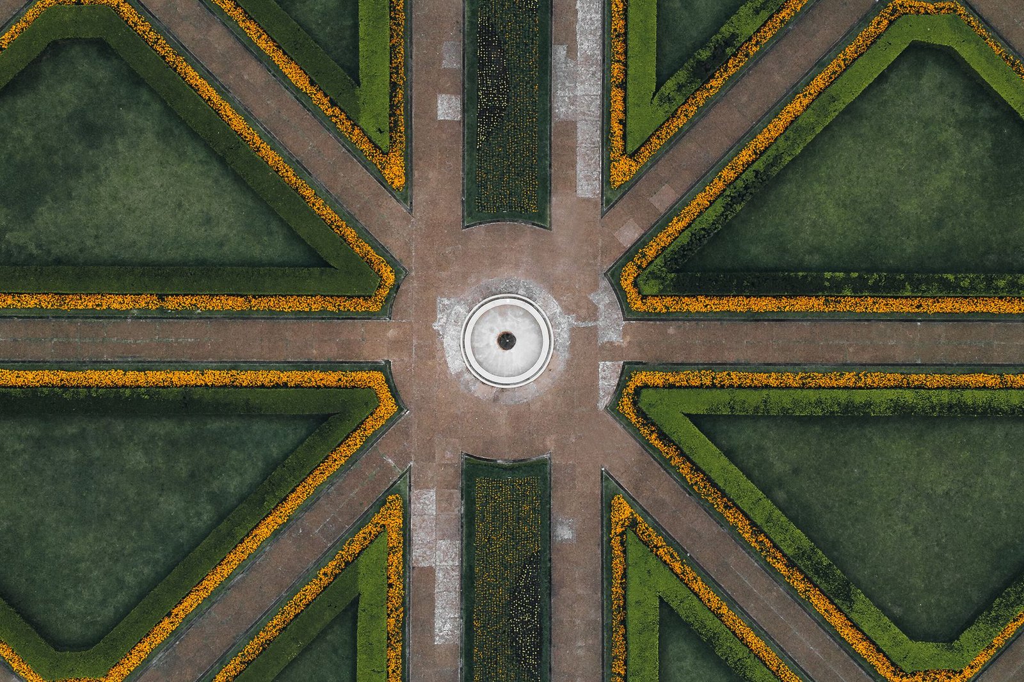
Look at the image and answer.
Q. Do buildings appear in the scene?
No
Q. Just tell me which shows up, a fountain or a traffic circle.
fountain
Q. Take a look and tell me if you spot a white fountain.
Yes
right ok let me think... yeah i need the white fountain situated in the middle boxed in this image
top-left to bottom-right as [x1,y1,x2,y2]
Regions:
[460,294,554,387]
